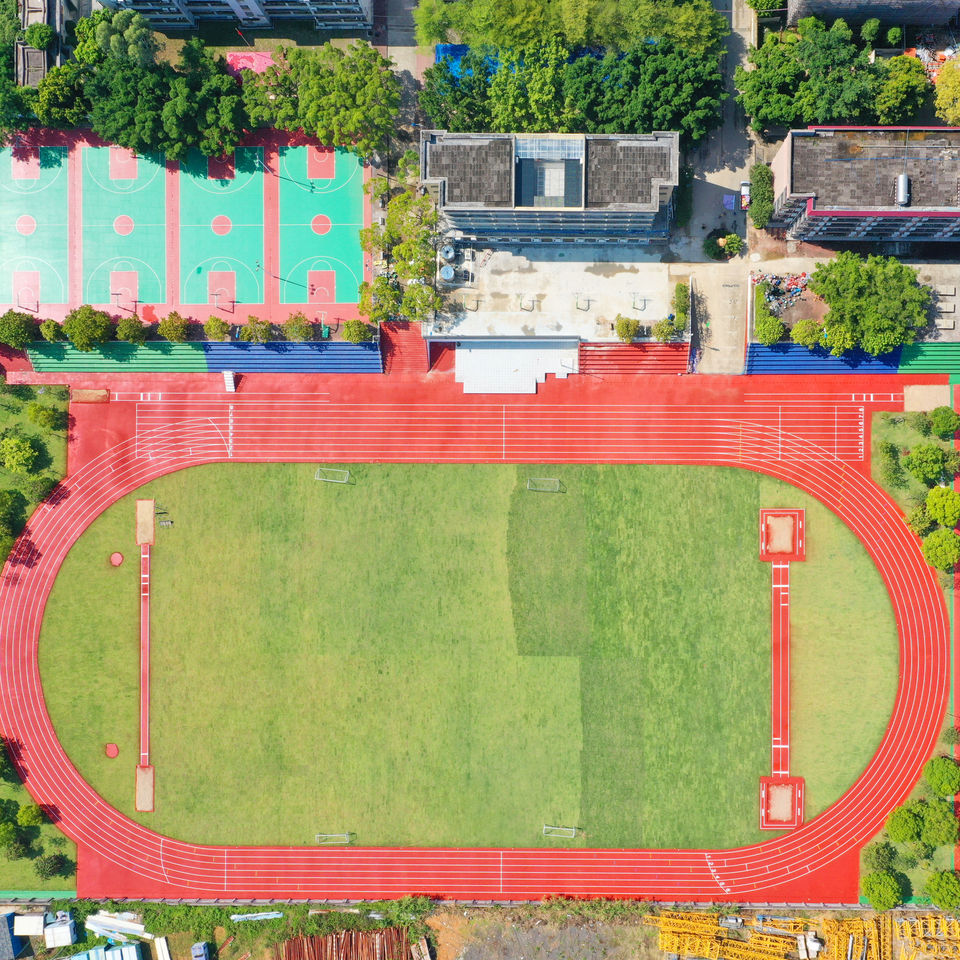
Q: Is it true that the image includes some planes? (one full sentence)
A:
No, no plane can be seen from above.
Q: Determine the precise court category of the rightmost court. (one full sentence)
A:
I'd identify the rightmost court as a basketball court.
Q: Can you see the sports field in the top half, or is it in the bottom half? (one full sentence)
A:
You can find the sports field in the bottom half.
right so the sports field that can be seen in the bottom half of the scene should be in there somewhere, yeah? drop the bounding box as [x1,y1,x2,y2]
[39,462,899,848]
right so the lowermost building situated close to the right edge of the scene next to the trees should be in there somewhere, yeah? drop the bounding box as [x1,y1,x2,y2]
[761,125,960,243]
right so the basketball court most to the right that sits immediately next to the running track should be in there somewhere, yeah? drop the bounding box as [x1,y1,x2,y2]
[279,146,364,304]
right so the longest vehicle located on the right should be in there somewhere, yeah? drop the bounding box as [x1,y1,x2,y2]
[740,179,753,208]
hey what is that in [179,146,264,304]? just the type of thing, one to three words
basketball court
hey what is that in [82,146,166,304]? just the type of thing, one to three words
basketball court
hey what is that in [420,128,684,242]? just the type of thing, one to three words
building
